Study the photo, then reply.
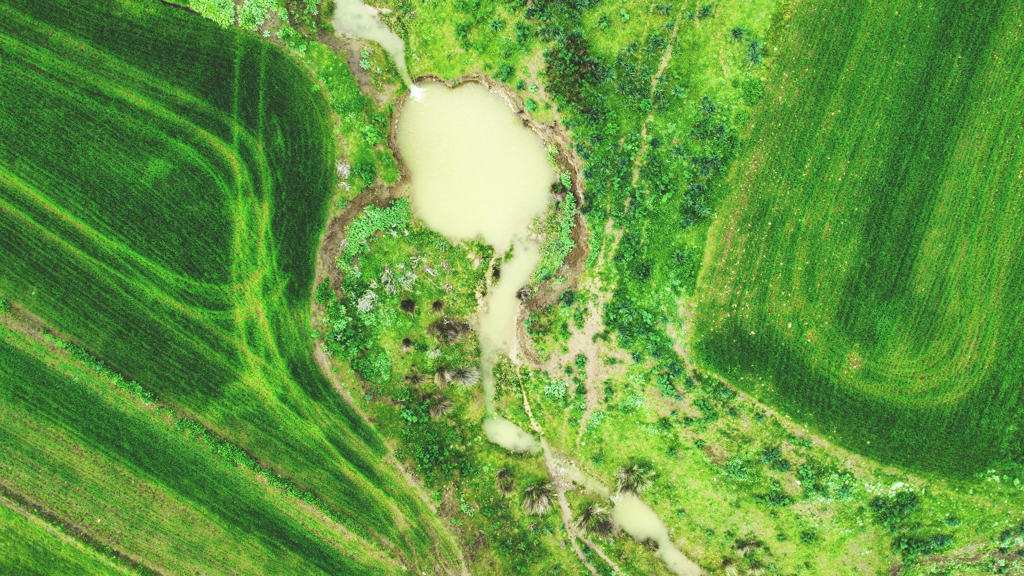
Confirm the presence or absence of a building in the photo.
No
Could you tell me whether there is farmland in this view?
Yes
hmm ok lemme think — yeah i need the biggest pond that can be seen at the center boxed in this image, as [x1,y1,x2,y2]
[396,80,555,421]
